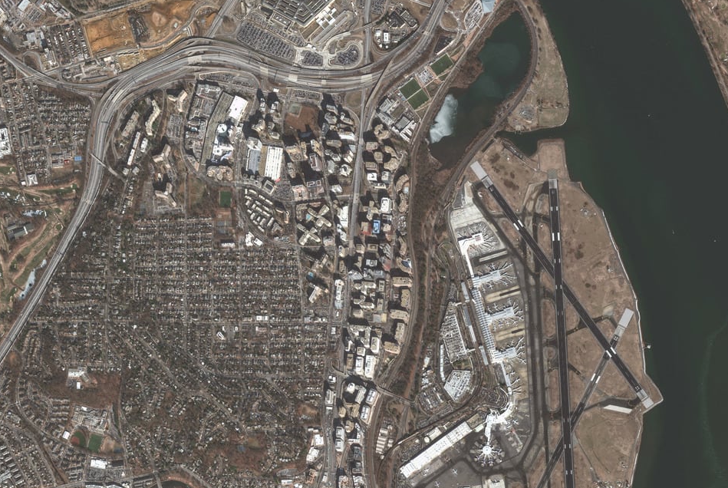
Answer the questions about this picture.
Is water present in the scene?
Yes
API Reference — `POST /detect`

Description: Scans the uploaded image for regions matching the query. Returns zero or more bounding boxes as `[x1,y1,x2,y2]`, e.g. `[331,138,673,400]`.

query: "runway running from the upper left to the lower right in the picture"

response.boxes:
[474,163,652,407]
